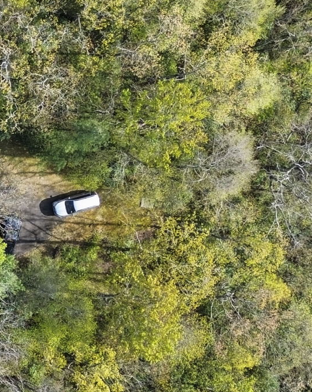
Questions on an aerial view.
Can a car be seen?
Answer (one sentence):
Yes, the image includes a car.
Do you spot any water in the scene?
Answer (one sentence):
No, there's no water in this view.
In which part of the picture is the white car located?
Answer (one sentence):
The white car sits in the left section of the image.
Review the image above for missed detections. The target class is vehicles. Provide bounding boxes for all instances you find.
[52,193,103,217]
[0,215,25,268]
